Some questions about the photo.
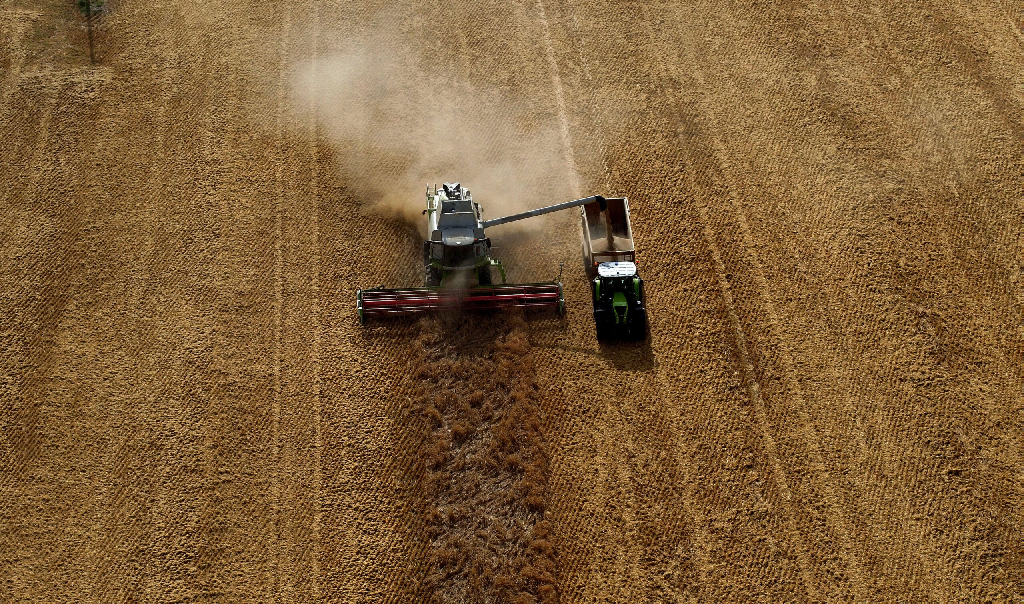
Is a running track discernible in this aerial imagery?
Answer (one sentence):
No, the frame has no running track in it.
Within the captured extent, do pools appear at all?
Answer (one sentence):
No, I can see no pool in this picture.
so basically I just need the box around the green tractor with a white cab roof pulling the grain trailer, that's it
[588,258,646,340]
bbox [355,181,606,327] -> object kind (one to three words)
work vehicle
